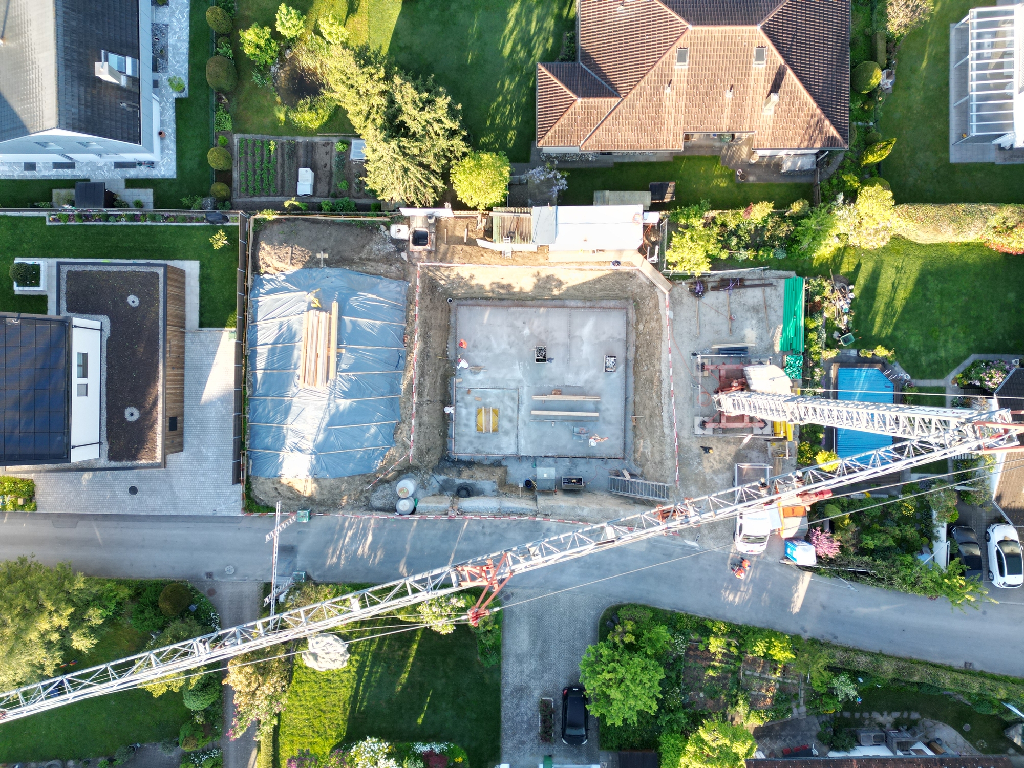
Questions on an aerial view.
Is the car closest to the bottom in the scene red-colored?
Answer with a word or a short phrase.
No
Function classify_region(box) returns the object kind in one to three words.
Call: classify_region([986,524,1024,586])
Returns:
car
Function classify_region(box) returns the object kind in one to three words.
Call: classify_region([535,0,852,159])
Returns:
house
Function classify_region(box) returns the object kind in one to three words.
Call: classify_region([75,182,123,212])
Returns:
shed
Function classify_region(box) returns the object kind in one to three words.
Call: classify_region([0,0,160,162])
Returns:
house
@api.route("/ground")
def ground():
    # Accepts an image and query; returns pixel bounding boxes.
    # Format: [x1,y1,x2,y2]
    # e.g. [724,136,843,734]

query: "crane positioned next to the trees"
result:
[0,361,1024,723]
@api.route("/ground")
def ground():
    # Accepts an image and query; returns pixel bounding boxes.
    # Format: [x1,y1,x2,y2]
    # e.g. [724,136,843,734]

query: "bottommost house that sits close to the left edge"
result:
[0,263,187,466]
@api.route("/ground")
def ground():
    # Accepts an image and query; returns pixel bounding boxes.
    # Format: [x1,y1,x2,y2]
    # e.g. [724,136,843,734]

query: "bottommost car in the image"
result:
[559,686,590,746]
